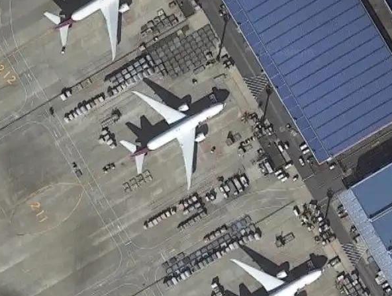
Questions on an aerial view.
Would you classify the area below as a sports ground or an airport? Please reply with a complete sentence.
This image shows an airport.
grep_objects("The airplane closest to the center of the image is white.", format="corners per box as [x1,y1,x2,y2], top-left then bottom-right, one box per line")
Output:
[119,90,224,189]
